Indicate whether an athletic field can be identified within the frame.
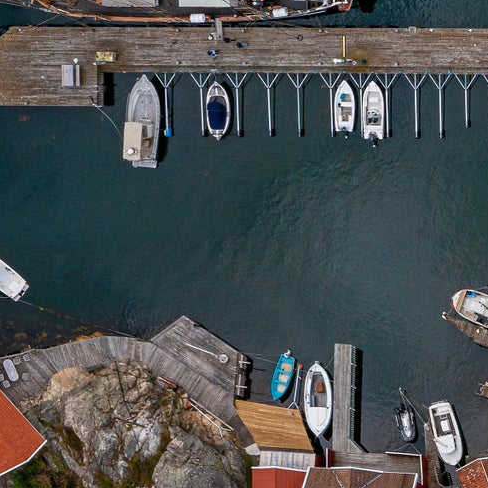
No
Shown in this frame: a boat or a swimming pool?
boat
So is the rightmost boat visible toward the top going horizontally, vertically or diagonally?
vertically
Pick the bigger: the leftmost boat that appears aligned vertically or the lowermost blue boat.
the leftmost boat that appears aligned vertically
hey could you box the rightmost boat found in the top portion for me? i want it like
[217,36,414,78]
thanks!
[360,81,386,145]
